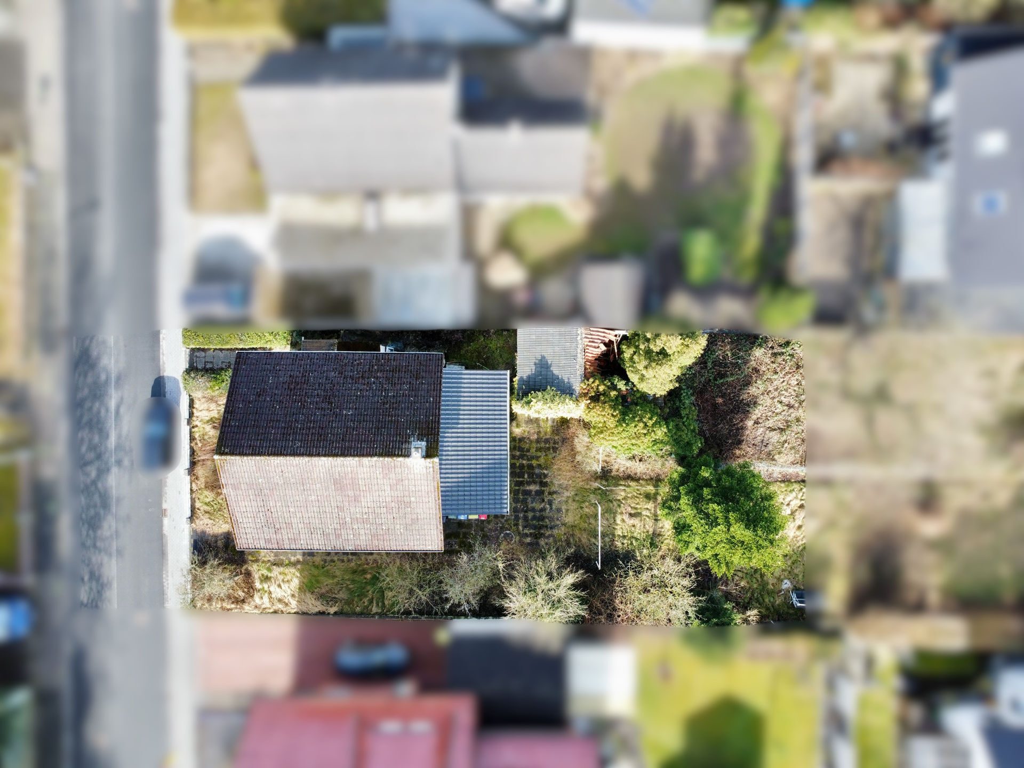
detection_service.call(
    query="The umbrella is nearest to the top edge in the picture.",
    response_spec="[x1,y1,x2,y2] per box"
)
[489,252,527,290]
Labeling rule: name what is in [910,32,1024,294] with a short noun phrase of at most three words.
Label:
house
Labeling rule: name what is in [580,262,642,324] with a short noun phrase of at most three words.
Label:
shed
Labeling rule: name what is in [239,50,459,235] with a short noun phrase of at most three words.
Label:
house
